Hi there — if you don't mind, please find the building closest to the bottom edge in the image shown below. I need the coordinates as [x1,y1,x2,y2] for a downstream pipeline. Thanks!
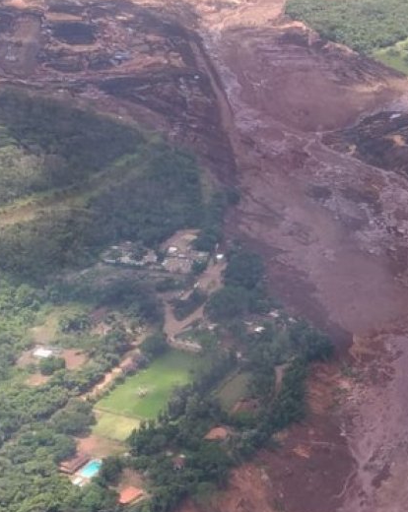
[116,484,142,505]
